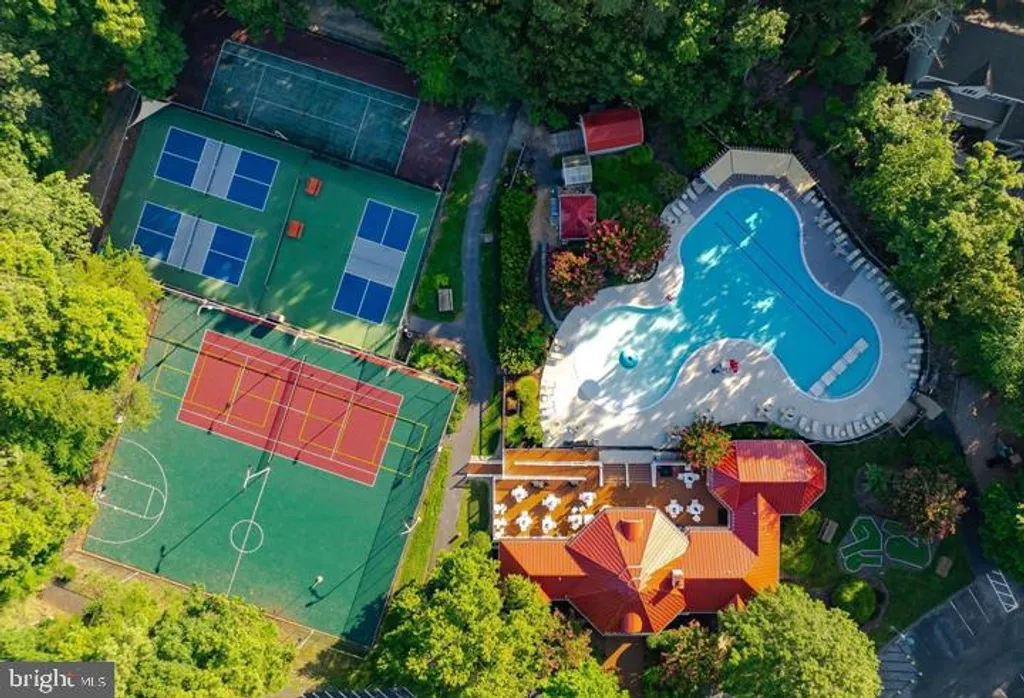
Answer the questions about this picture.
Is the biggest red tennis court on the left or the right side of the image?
left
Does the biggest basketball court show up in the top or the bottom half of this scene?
bottom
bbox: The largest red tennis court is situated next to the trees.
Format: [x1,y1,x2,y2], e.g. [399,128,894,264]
[176,330,404,486]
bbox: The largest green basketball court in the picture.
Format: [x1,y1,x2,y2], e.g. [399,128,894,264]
[82,291,458,649]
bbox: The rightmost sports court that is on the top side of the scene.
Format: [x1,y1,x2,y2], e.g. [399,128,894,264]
[332,198,419,326]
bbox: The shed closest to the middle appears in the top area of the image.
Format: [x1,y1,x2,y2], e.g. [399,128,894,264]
[559,194,598,242]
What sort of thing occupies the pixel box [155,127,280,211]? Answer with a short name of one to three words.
sports court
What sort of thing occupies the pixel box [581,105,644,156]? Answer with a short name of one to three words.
shed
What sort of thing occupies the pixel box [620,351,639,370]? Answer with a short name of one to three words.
fountain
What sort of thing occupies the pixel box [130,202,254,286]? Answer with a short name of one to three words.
sports court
